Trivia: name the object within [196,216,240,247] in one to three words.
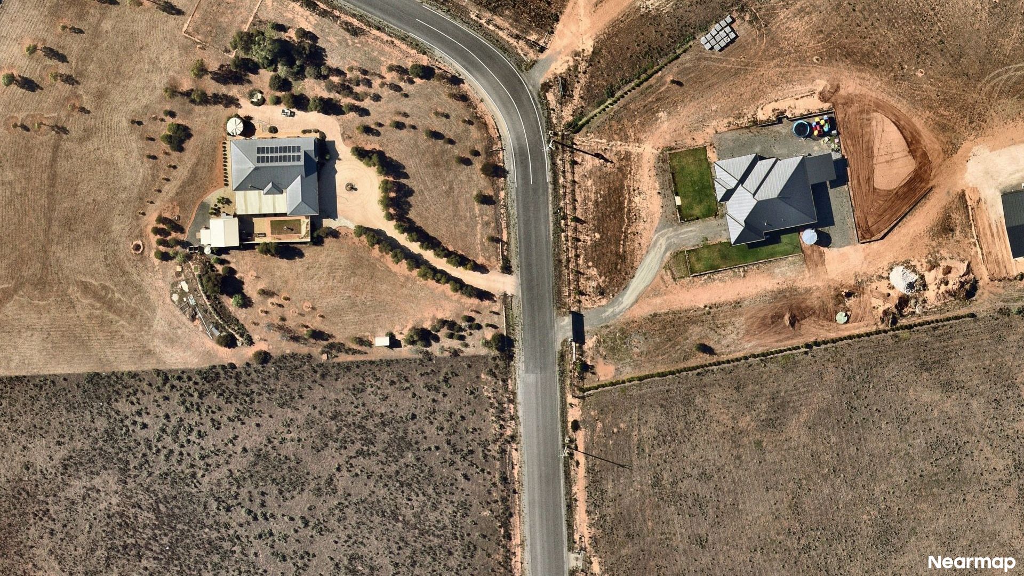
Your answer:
shed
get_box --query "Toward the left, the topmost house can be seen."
[231,138,319,215]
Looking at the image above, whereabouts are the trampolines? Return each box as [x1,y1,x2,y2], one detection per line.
[793,121,810,138]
